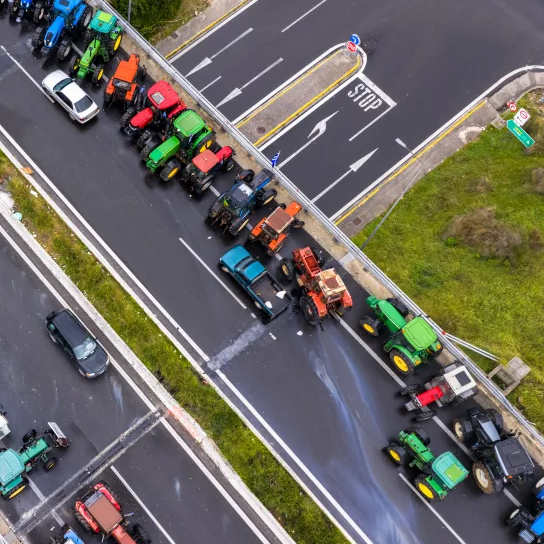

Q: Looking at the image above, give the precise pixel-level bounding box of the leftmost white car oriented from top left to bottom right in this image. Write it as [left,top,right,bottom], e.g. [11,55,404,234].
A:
[40,70,104,126]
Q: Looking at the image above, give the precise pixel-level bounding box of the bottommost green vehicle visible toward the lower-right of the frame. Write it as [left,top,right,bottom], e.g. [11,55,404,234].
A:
[384,427,469,508]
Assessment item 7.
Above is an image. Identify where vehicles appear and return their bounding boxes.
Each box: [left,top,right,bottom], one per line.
[0,424,74,504]
[384,427,469,508]
[33,0,94,63]
[177,147,237,200]
[138,108,214,181]
[43,306,109,380]
[40,70,104,126]
[447,404,538,496]
[355,294,441,375]
[282,247,357,323]
[69,11,124,90]
[10,0,47,21]
[247,202,307,258]
[101,54,145,116]
[206,163,284,236]
[72,484,151,544]
[214,247,294,322]
[121,79,187,144]
[501,475,544,544]
[401,363,477,424]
